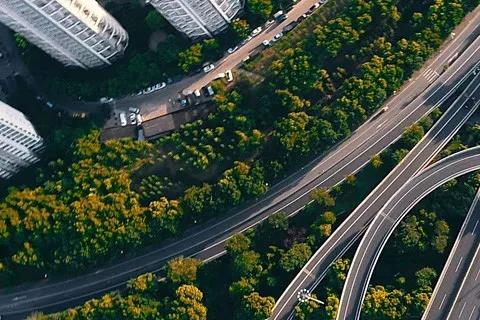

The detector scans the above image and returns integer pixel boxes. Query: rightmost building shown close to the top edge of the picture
[146,0,246,42]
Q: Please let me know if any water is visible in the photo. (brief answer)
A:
No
